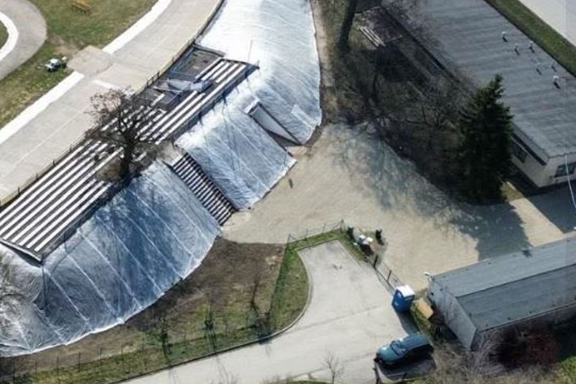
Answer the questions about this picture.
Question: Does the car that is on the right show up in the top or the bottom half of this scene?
bottom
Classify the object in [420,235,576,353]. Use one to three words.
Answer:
shed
